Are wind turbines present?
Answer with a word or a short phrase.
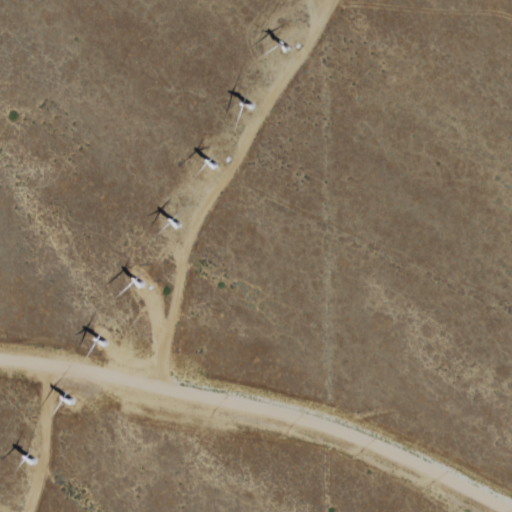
Yes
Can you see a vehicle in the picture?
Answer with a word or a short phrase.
No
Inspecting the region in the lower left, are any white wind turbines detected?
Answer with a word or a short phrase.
Yes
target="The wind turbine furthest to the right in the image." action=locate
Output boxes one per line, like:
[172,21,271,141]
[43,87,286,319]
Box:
[264,31,302,56]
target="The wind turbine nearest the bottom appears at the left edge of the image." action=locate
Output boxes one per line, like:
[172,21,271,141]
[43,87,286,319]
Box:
[14,437,40,472]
